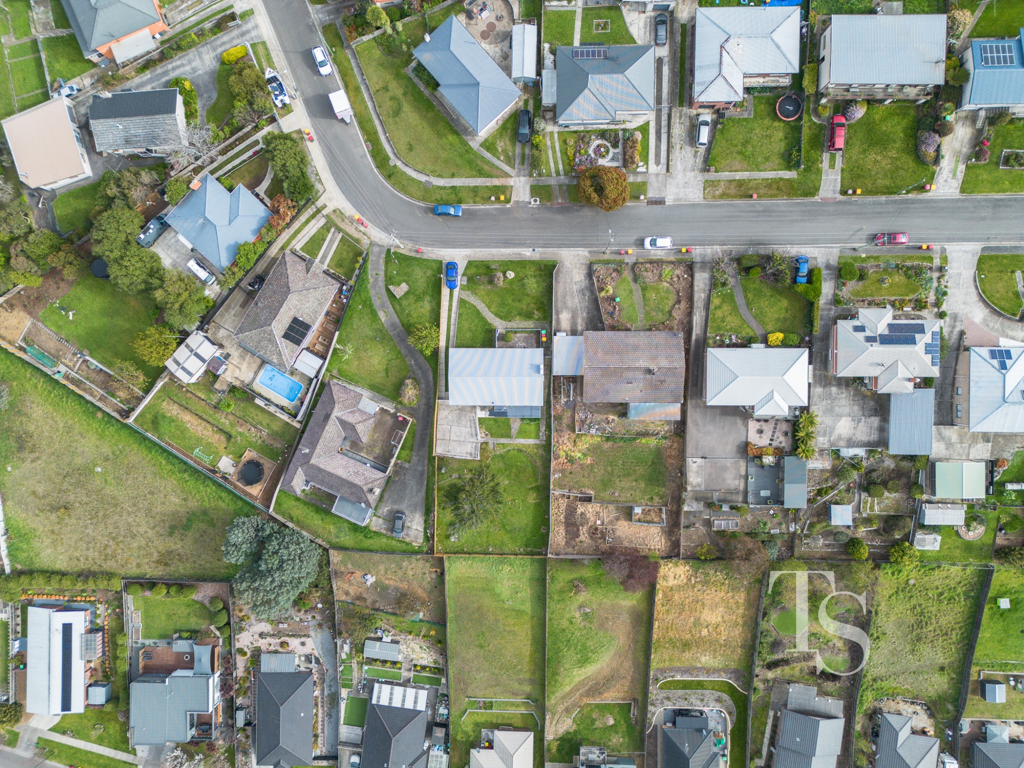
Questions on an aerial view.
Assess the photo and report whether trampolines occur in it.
Yes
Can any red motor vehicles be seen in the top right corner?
Yes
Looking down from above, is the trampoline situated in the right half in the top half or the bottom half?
top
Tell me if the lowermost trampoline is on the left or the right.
left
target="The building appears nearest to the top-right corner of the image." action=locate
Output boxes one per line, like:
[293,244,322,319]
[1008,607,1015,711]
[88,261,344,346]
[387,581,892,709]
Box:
[952,27,1024,114]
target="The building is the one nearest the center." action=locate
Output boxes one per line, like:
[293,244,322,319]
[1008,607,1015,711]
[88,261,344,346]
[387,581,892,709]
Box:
[448,347,546,418]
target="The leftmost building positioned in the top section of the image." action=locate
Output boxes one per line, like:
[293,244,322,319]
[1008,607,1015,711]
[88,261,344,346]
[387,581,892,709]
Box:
[1,96,95,191]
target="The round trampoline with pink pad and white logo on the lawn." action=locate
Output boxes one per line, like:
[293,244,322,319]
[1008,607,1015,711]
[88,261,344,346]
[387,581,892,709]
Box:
[775,94,808,121]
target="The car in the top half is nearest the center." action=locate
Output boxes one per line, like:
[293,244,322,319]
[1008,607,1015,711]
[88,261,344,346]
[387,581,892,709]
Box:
[445,262,458,290]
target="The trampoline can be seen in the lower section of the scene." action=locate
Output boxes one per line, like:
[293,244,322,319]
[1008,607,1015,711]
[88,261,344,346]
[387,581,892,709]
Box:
[236,461,263,486]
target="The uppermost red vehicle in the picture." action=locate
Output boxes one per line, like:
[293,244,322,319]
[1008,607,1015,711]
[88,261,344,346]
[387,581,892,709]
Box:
[827,115,845,154]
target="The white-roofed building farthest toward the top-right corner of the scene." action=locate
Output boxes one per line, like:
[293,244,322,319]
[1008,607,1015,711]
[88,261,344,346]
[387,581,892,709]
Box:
[817,14,947,105]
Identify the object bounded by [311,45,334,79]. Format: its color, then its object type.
white car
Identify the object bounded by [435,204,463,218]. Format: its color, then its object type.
blue car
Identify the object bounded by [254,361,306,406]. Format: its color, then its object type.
blue swimming pool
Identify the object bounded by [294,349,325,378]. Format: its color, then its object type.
white gazebo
